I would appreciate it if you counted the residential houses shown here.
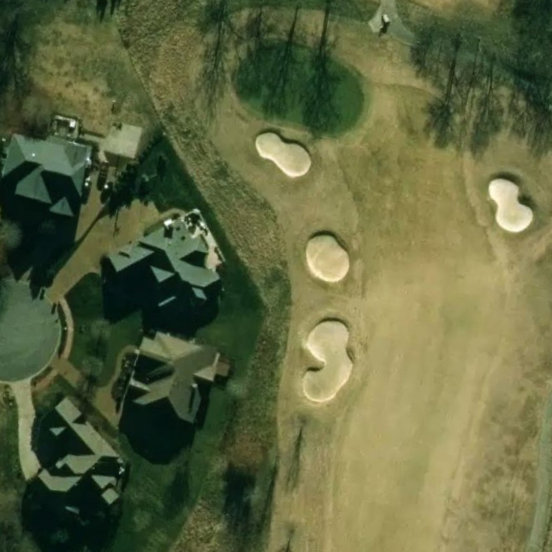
4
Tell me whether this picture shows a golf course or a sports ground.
golf course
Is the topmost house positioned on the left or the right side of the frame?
left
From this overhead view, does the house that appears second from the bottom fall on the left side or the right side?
left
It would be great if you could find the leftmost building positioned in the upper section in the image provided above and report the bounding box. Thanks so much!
[2,134,96,217]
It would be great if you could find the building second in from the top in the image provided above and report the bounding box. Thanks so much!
[106,220,226,329]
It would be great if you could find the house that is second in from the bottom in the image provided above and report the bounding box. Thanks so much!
[126,336,218,435]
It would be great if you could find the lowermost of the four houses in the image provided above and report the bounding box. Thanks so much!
[25,393,125,519]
